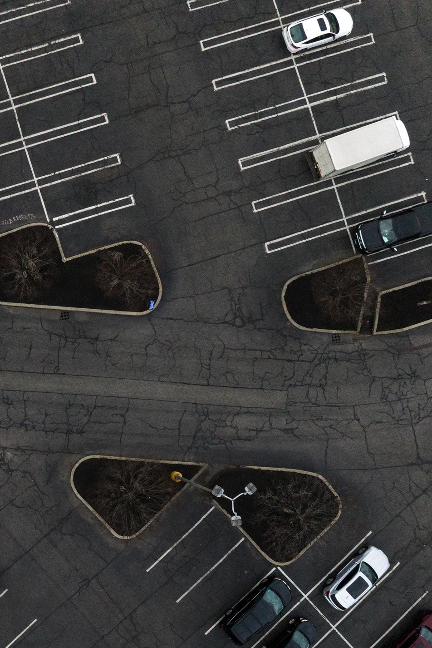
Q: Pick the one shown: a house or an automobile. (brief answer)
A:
automobile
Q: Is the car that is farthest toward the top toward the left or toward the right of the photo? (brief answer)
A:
right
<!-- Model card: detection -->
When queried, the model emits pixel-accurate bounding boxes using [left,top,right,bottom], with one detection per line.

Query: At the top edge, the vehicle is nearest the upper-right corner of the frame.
[281,9,352,55]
